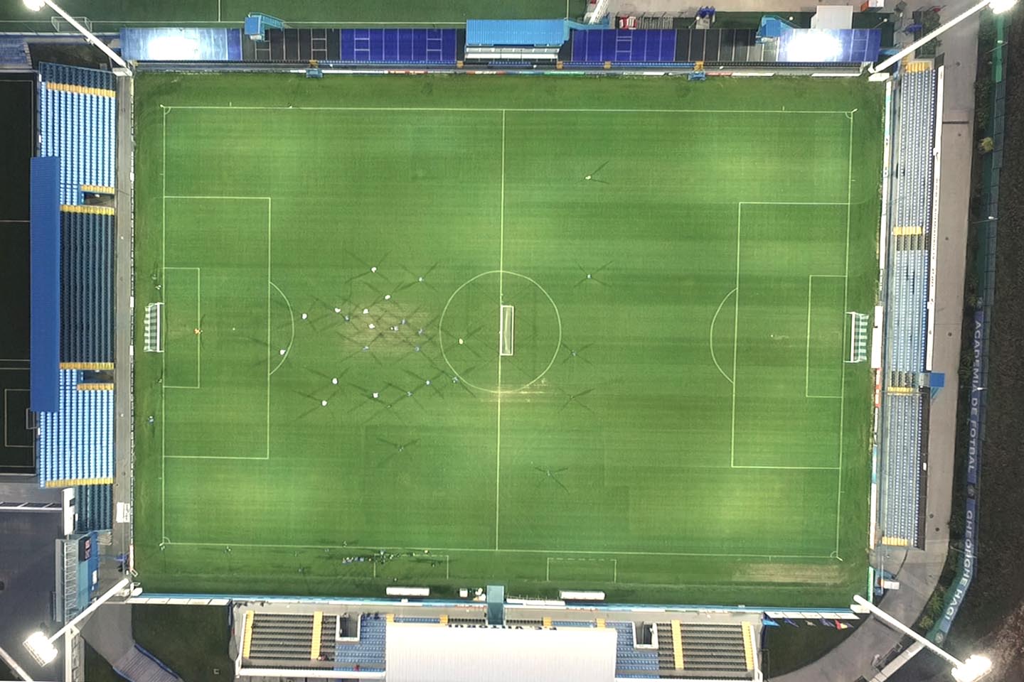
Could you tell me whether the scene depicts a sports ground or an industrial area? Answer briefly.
sports ground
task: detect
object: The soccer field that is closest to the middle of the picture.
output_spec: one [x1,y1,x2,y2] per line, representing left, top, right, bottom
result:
[133,75,883,612]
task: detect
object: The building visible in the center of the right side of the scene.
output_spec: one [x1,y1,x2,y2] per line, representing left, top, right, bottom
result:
[916,372,945,391]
